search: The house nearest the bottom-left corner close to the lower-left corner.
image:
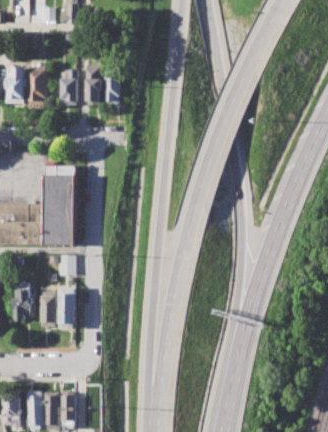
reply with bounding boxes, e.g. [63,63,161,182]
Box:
[4,397,22,432]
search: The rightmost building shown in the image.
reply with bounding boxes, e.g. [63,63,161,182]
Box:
[104,76,120,104]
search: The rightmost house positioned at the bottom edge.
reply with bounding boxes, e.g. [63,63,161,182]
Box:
[62,394,76,429]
